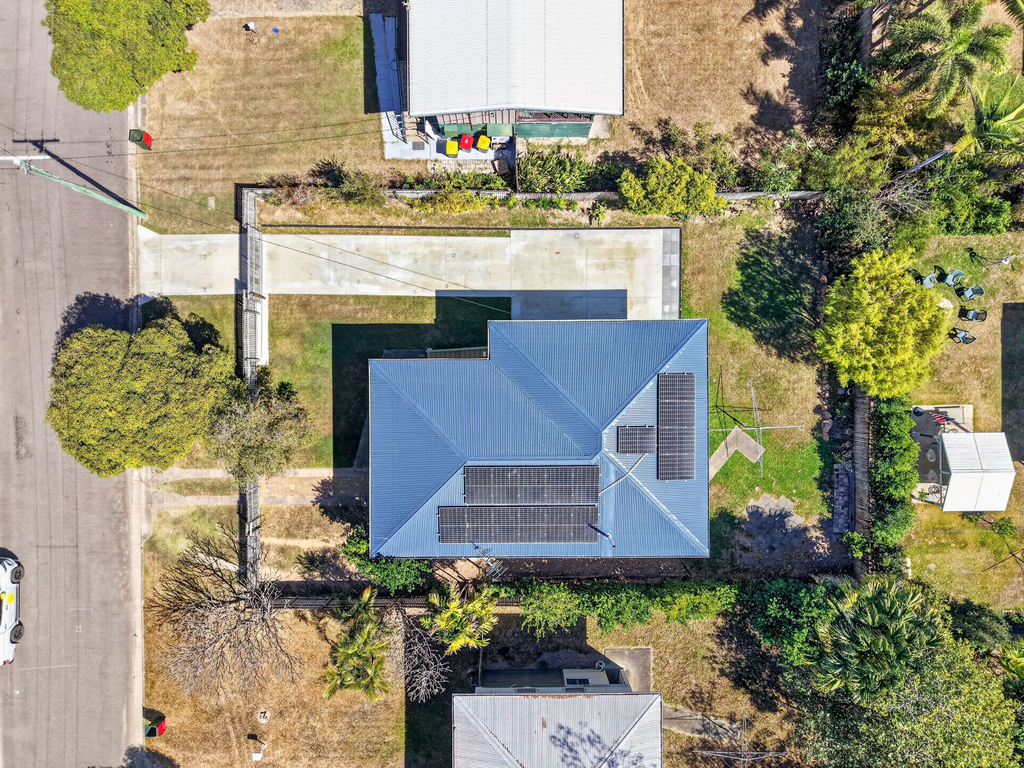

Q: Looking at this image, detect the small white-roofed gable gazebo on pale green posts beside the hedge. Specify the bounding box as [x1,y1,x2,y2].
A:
[916,433,1016,511]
